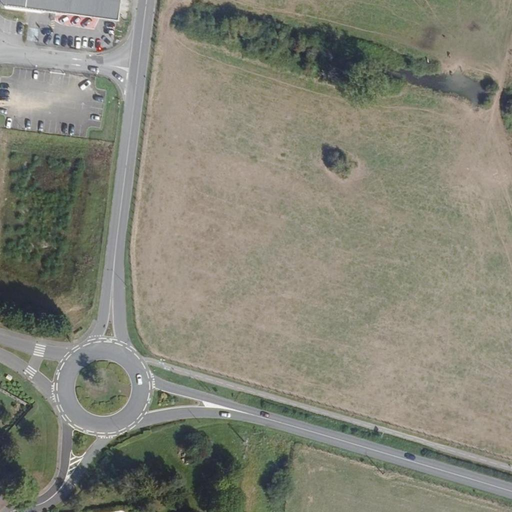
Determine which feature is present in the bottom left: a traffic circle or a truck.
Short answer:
traffic circle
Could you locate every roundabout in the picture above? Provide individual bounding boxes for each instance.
[52,336,154,438]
